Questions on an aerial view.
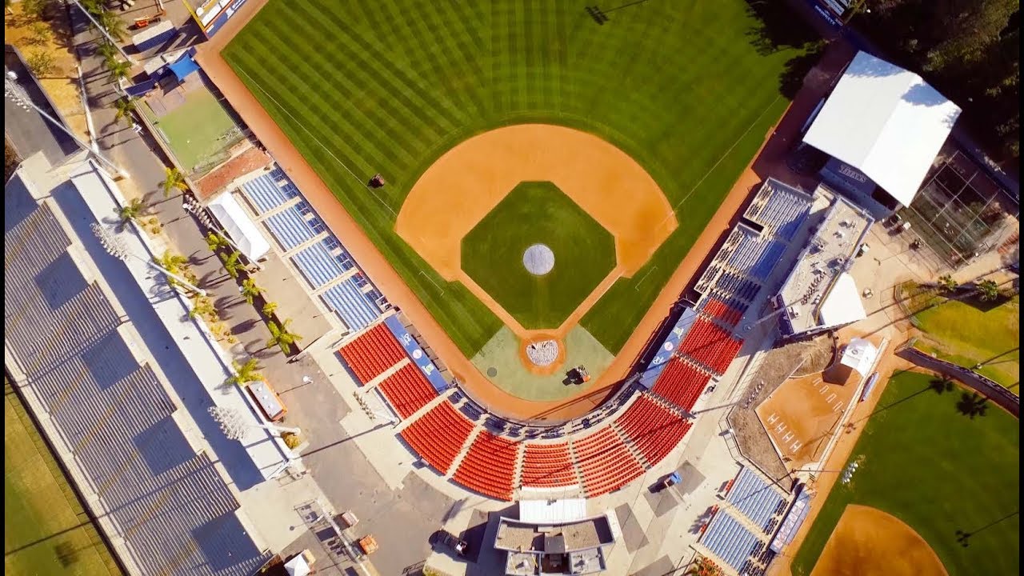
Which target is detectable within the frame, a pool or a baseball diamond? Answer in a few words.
baseball diamond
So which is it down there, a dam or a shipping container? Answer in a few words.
shipping container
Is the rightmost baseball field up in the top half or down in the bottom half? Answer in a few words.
bottom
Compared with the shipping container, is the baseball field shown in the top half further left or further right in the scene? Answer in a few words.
to the right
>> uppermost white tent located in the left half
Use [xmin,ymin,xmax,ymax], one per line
[208,191,275,261]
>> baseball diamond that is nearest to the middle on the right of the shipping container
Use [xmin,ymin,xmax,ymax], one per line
[199,0,839,426]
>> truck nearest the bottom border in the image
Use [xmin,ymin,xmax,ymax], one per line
[430,530,469,558]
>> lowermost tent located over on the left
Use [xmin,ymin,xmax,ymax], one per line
[284,554,316,576]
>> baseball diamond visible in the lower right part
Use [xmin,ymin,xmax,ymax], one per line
[771,340,1024,576]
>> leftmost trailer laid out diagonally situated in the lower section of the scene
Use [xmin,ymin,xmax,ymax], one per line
[250,380,289,421]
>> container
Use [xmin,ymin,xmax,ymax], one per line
[132,19,180,52]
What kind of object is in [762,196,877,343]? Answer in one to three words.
building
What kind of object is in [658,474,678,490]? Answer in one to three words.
work vehicle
